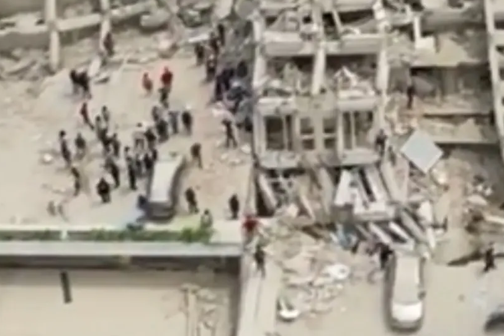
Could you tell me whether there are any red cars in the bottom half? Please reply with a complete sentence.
No, no red car appears in the bottom half.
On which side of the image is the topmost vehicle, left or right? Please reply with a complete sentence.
You can find the topmost vehicle on the left side of the picture.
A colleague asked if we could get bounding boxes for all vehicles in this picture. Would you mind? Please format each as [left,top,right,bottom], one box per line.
[142,148,184,215]
[487,304,504,326]
[385,251,427,331]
